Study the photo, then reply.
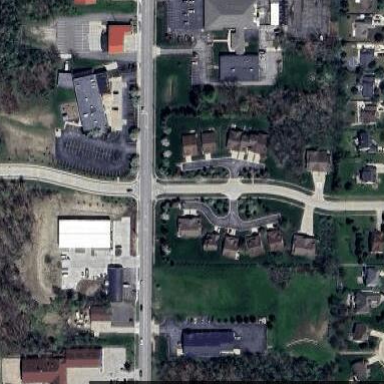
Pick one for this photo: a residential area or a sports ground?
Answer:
residential area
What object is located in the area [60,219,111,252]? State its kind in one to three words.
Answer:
building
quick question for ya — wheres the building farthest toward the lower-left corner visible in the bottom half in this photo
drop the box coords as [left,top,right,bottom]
[21,349,103,384]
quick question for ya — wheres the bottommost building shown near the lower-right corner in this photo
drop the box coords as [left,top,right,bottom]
[349,358,369,380]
